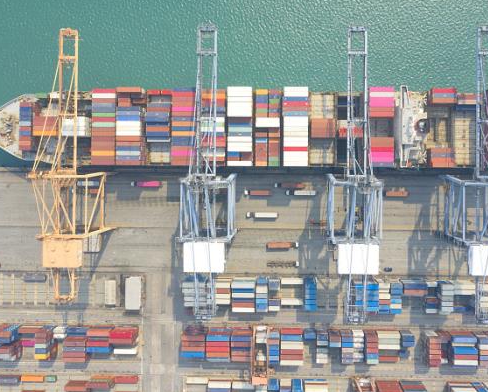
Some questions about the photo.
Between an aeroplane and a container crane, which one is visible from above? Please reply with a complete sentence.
It is a container crane that can be seen here.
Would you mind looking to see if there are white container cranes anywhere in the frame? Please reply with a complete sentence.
Yes, a white container crane is visible in the scene.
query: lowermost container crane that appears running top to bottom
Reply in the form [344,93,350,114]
[251,321,277,386]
